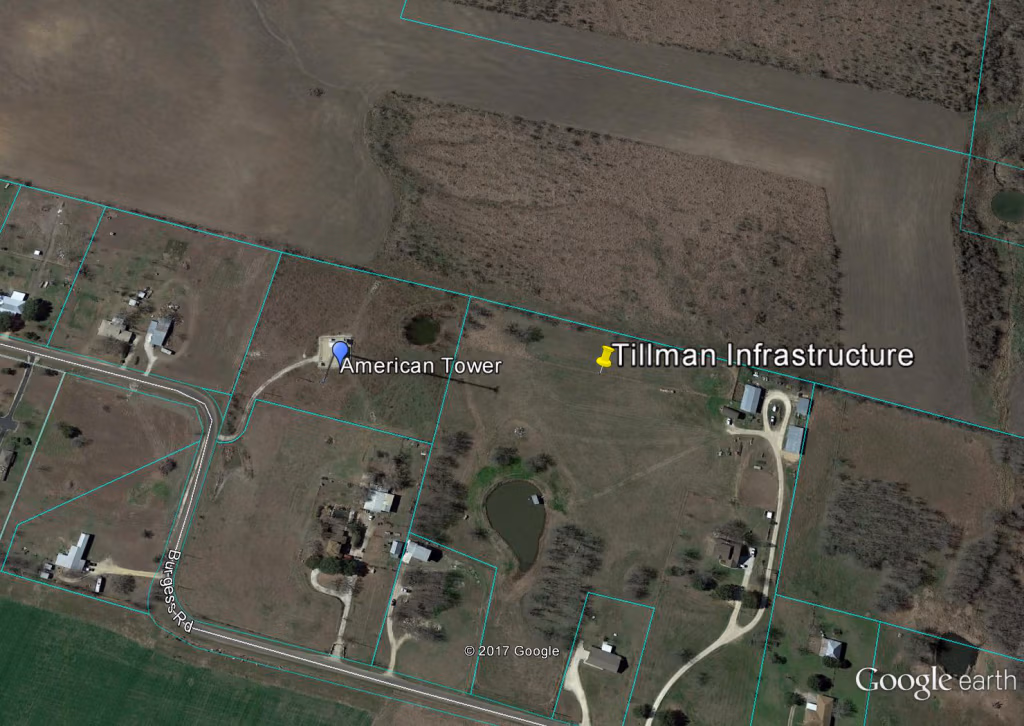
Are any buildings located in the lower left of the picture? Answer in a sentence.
Yes, a building can be seen in the lower left of the picture.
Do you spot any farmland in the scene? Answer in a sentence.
Yes, some farmland is visible.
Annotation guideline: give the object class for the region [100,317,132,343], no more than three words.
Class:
house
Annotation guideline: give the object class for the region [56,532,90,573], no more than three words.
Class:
house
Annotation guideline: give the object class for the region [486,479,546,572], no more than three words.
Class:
pond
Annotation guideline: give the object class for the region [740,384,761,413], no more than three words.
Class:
barn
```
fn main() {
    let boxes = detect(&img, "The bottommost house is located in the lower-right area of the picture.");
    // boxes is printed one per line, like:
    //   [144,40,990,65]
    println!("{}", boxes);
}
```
[802,694,833,726]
